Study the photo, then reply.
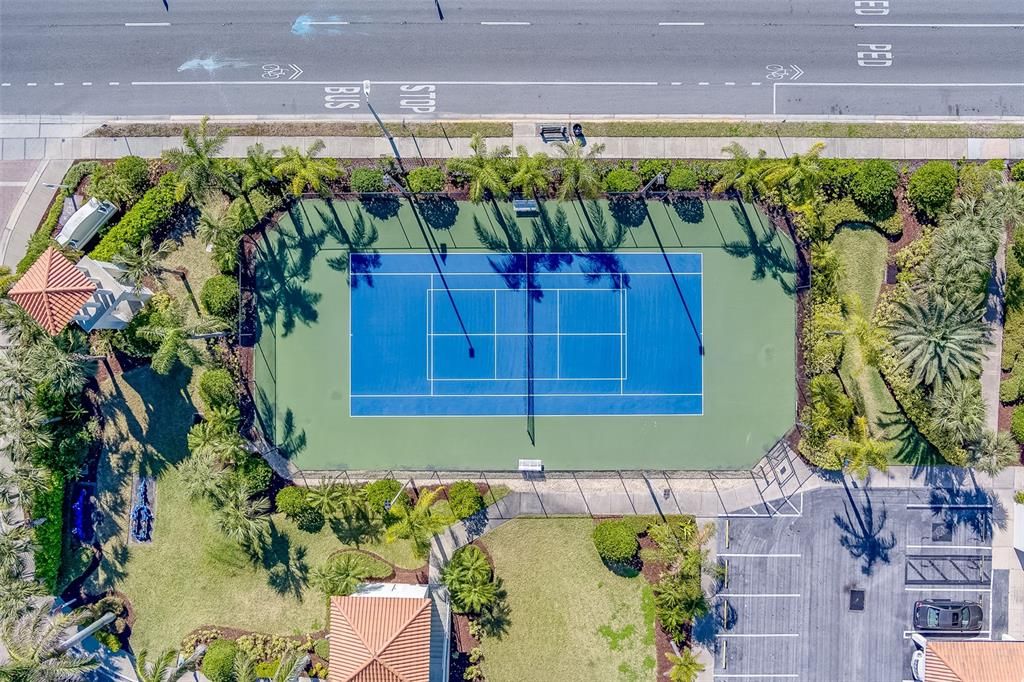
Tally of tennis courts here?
1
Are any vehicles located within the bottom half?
Yes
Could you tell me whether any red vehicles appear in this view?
No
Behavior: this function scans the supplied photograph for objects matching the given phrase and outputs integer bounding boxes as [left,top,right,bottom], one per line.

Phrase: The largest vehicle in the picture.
[912,600,983,634]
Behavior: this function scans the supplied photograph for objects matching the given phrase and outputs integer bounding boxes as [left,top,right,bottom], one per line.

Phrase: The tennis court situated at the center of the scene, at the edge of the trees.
[255,200,796,470]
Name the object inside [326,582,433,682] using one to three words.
house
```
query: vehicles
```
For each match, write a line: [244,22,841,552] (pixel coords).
[911,645,923,675]
[912,600,983,634]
